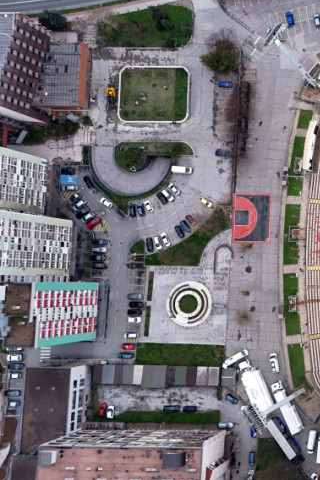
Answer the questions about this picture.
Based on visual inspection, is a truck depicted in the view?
Yes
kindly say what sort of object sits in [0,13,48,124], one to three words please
building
